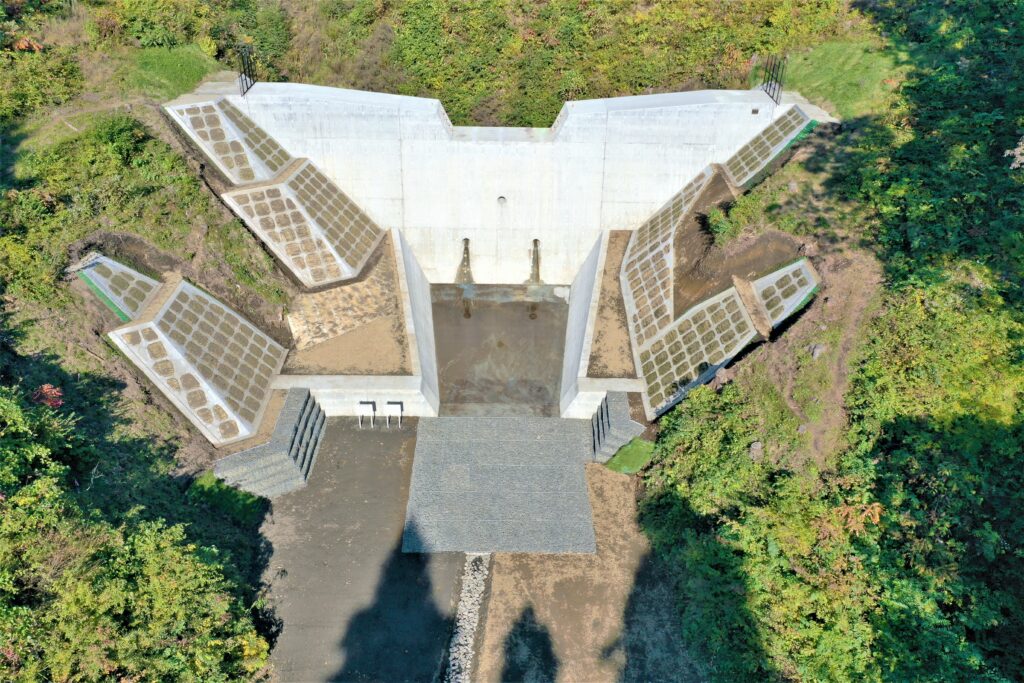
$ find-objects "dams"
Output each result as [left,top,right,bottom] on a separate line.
[214,84,798,285]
